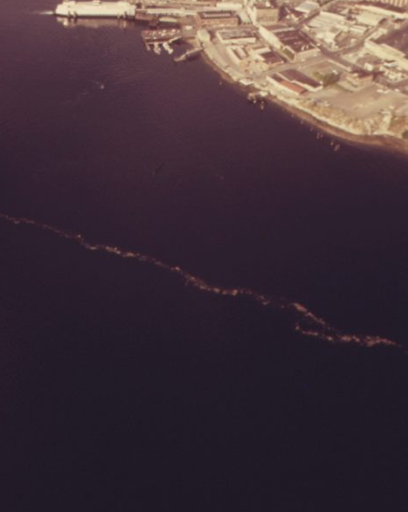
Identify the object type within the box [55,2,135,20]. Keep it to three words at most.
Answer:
ship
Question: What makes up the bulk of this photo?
water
